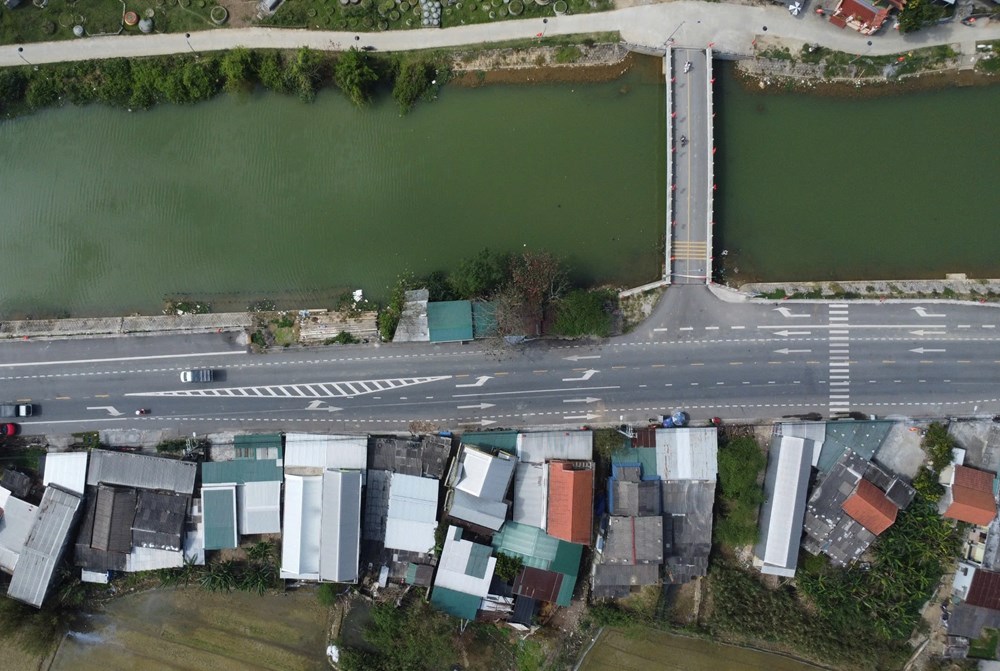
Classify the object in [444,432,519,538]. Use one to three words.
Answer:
house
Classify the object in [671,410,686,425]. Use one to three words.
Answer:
umbrella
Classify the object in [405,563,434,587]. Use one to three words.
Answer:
shed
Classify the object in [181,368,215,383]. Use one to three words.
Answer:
vehicle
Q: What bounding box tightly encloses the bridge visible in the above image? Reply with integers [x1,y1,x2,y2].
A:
[664,47,713,287]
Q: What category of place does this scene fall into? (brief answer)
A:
residential area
